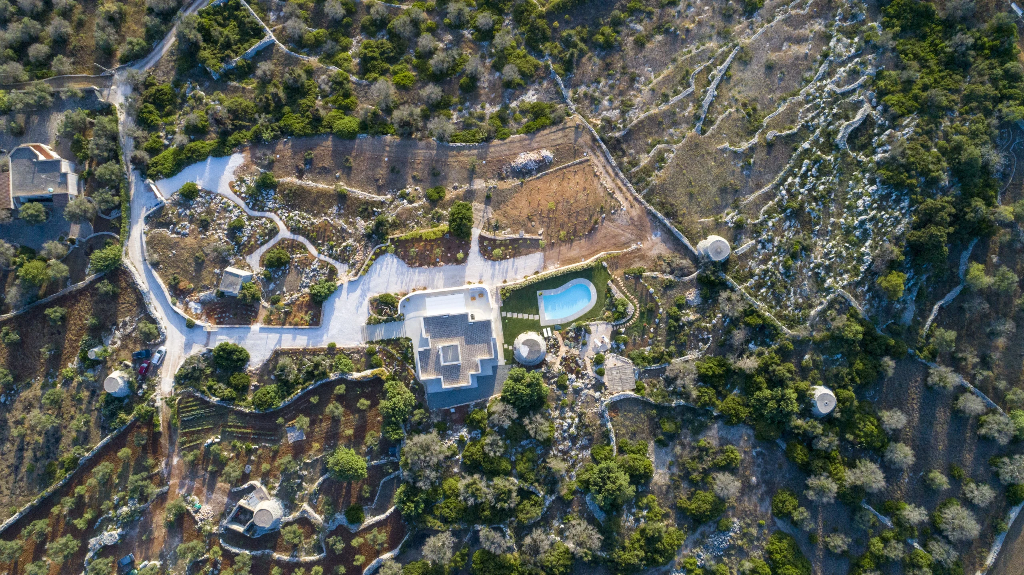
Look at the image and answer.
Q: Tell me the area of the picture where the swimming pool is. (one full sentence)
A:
The swimming pool is in the center part of the image.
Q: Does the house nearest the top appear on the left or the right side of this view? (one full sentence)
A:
The house nearest the top appears in the left half of the scene.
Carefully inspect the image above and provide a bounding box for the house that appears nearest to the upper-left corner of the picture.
[0,143,87,210]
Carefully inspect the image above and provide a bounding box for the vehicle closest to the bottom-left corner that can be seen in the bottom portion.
[116,551,137,567]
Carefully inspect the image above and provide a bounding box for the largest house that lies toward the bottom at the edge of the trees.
[418,312,499,388]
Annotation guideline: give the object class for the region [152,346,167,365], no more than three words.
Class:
car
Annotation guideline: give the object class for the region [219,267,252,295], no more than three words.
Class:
shed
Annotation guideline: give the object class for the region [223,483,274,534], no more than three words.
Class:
building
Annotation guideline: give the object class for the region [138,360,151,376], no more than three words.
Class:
vehicle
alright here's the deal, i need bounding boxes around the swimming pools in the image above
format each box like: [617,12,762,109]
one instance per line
[537,278,597,326]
